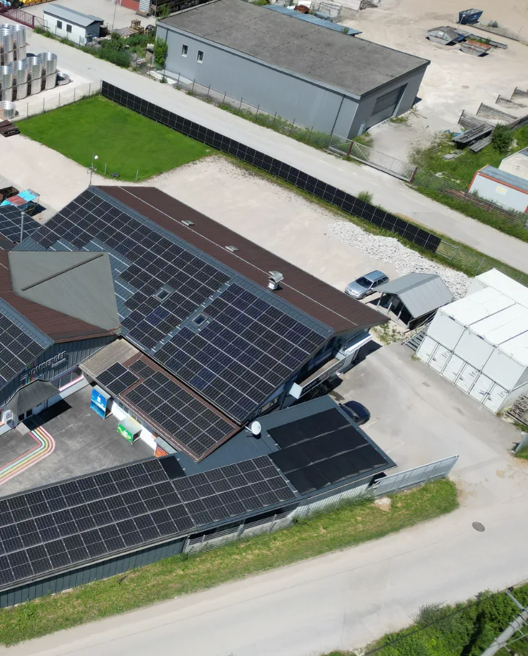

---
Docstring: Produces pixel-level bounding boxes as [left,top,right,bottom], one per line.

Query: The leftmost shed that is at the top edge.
[42,4,104,43]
